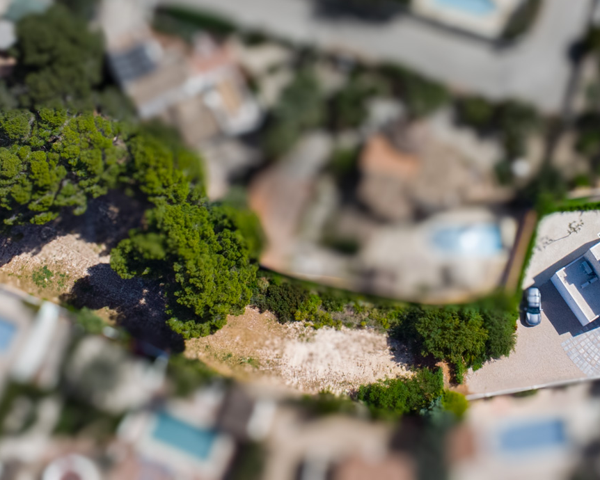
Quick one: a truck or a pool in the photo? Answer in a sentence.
There is a pool in the scene.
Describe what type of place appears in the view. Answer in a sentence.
This image shows a residential area.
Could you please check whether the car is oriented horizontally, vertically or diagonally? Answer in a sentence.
Seen from above, the car lies vertically.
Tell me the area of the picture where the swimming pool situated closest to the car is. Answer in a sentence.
You can find the swimming pool situated closest to the car in the right area of the picture.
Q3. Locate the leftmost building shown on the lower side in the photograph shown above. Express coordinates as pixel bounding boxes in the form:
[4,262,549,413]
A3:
[11,304,76,386]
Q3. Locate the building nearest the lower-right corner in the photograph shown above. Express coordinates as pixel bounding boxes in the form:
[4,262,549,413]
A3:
[452,412,487,457]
